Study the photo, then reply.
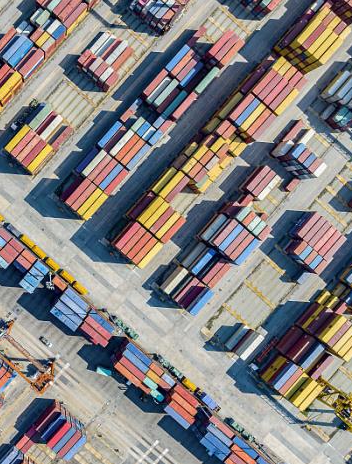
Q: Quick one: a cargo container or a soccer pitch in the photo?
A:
cargo container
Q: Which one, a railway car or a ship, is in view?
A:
railway car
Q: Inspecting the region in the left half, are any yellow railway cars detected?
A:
Yes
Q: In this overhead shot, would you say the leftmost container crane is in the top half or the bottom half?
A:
bottom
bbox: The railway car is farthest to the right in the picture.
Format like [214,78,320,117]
[242,431,258,447]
